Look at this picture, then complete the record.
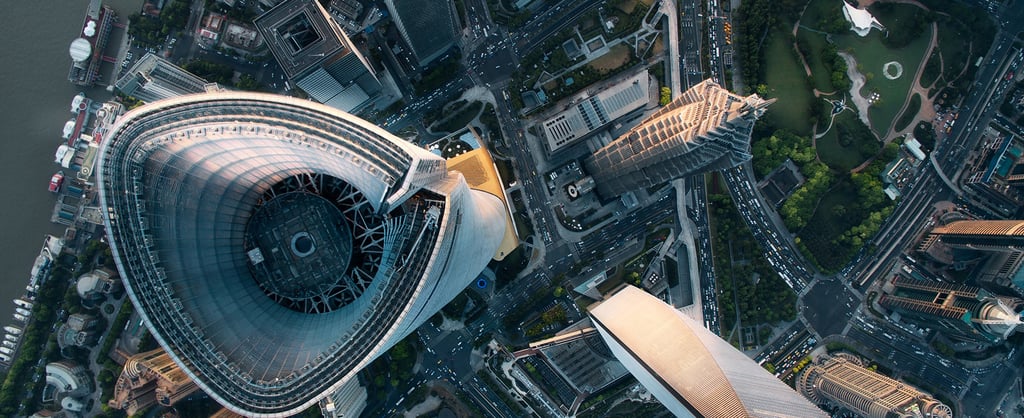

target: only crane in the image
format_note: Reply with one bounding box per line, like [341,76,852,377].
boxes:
[391,203,442,274]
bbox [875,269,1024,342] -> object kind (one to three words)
building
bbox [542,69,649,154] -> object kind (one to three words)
building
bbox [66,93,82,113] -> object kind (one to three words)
ship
